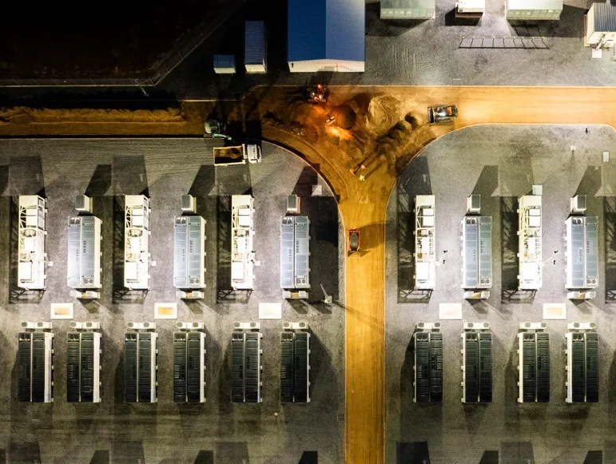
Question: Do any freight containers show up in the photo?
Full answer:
Yes, this view includes a freight container.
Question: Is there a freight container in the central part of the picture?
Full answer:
Yes, looking in the central part of the picture, one can make out a freight container.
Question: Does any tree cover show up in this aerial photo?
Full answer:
No, the scene doesn't show any tree cover.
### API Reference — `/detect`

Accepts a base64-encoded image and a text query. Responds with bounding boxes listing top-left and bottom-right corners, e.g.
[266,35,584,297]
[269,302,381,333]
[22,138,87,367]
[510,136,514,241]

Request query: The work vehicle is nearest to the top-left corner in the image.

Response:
[201,116,241,141]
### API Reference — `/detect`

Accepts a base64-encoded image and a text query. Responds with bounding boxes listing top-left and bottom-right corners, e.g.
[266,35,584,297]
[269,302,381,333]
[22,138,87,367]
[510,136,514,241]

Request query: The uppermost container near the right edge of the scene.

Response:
[562,218,596,289]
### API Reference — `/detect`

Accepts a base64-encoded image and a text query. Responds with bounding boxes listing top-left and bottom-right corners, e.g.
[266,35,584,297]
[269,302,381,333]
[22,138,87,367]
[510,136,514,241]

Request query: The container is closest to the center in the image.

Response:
[277,218,308,289]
